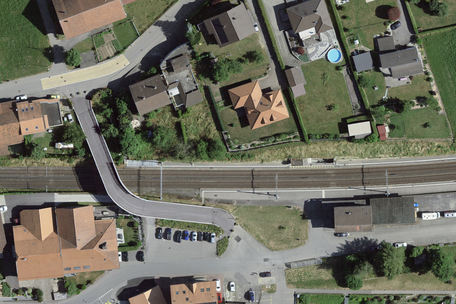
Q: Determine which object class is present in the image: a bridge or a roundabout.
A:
bridge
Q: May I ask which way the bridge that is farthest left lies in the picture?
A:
diagonally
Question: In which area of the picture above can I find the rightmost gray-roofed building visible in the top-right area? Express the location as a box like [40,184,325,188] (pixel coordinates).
[377,36,424,78]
